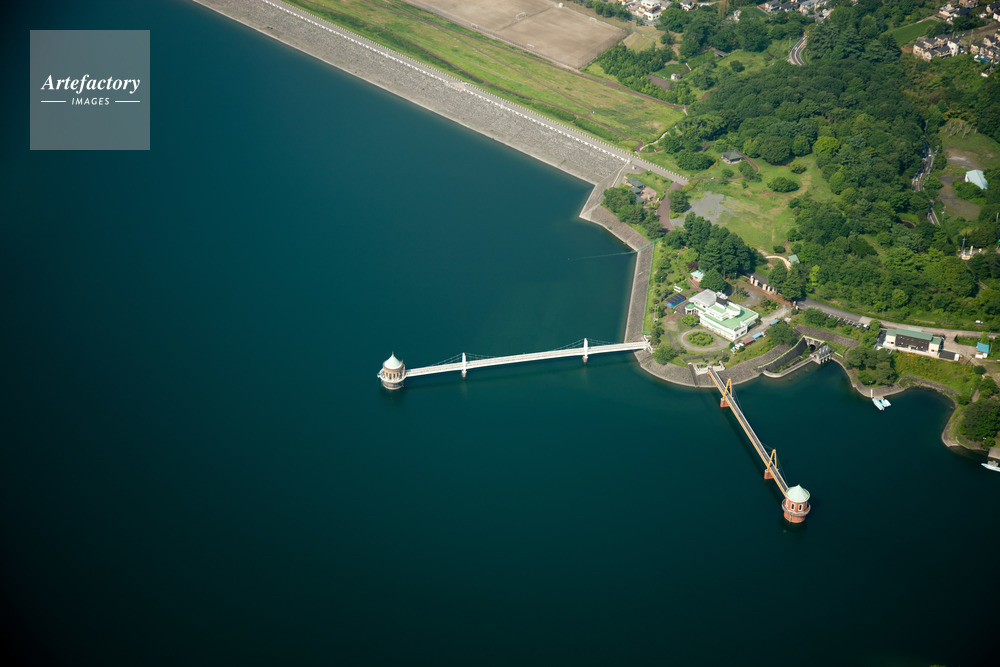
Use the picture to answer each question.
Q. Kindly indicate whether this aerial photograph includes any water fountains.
No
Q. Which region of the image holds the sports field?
top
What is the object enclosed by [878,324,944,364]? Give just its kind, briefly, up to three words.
building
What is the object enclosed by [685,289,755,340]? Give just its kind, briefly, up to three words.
building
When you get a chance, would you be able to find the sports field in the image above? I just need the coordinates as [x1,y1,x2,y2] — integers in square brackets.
[403,0,626,71]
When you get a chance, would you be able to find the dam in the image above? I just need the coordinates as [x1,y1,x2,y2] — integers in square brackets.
[193,0,688,188]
